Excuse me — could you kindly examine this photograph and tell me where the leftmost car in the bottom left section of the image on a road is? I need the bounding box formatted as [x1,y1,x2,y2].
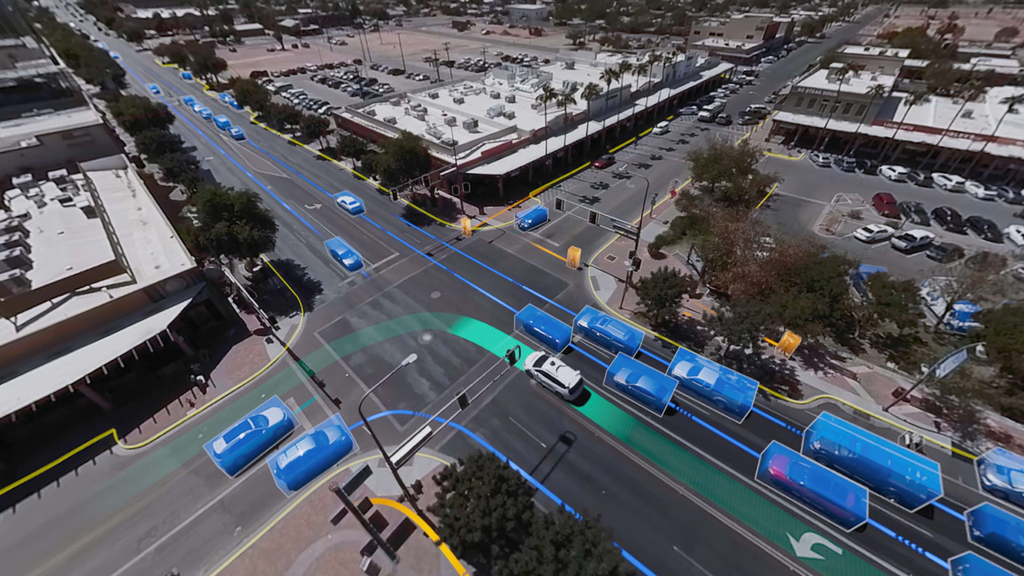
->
[215,408,295,470]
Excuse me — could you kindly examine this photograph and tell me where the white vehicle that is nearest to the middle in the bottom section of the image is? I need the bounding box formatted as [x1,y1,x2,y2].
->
[525,349,588,398]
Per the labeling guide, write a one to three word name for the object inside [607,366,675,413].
car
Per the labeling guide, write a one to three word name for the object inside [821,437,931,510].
vehicle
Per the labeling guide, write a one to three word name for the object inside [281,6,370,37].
building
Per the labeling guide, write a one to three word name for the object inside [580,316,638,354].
car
